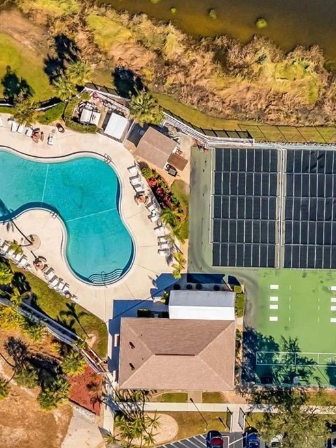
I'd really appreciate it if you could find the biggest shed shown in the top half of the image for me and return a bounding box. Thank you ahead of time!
[135,126,177,169]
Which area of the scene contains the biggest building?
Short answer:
bottom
